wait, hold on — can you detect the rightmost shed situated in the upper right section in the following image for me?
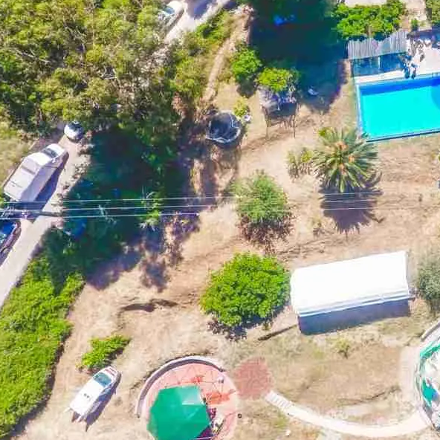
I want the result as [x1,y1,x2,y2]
[347,34,412,81]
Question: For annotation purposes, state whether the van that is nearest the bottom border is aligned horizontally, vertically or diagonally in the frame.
diagonally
